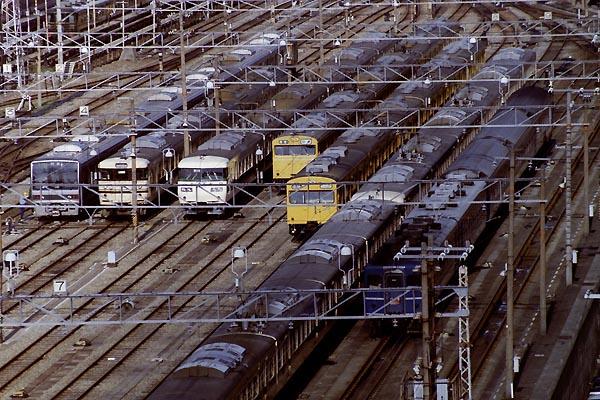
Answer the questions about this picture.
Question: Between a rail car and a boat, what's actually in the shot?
rail car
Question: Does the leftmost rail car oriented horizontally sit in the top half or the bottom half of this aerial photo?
top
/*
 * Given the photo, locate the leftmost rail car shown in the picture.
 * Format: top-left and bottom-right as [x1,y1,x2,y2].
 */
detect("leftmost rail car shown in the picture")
[31,134,129,218]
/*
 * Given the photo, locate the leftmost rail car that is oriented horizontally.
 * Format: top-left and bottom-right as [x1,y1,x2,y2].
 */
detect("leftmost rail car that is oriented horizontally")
[89,111,171,143]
